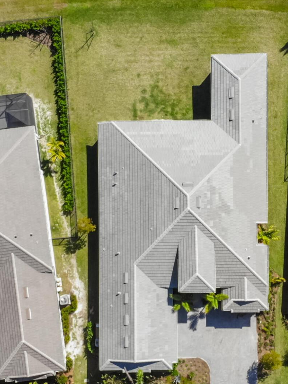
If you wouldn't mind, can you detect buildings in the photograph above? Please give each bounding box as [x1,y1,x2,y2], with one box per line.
[0,125,68,380]
[99,52,269,373]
